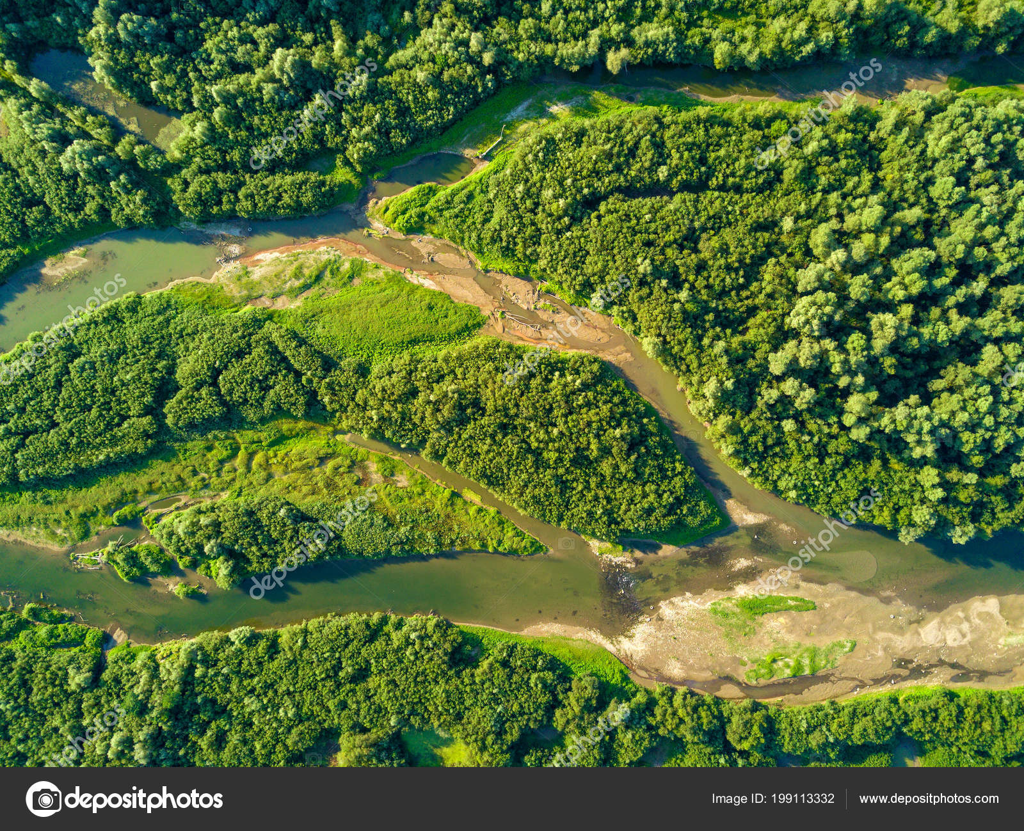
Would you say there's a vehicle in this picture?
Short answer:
No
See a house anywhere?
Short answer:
No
